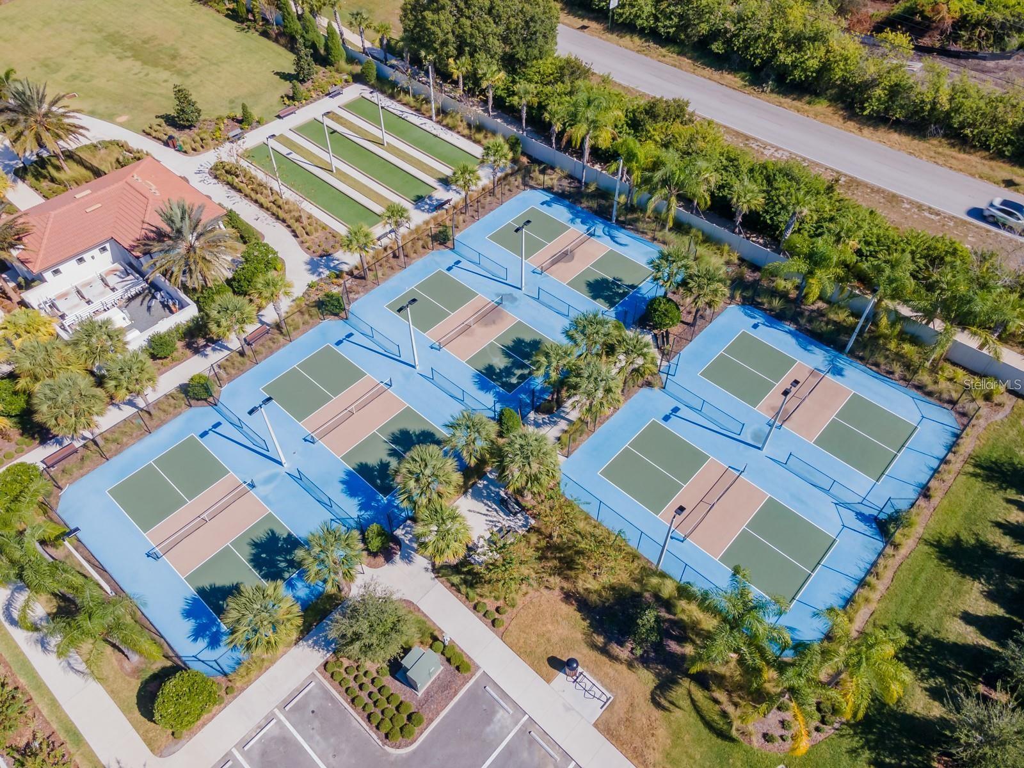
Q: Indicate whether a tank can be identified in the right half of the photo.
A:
No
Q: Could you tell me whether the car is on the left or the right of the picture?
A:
right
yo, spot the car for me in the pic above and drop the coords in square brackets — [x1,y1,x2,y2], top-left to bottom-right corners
[982,201,1024,239]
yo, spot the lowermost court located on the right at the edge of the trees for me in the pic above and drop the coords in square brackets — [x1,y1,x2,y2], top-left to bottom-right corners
[600,420,838,610]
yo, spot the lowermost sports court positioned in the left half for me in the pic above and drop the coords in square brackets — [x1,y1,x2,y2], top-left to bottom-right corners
[108,434,305,629]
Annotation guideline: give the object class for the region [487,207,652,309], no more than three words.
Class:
sports court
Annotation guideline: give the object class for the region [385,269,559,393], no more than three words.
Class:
sports court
